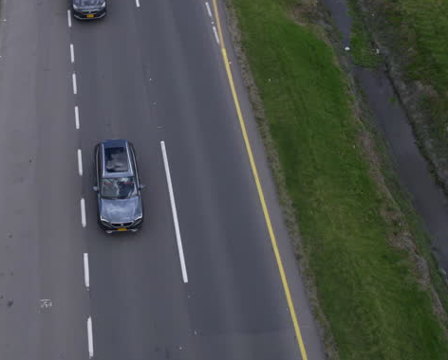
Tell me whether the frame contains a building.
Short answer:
No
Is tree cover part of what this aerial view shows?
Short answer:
No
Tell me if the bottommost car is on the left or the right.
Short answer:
left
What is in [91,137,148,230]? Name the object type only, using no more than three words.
car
